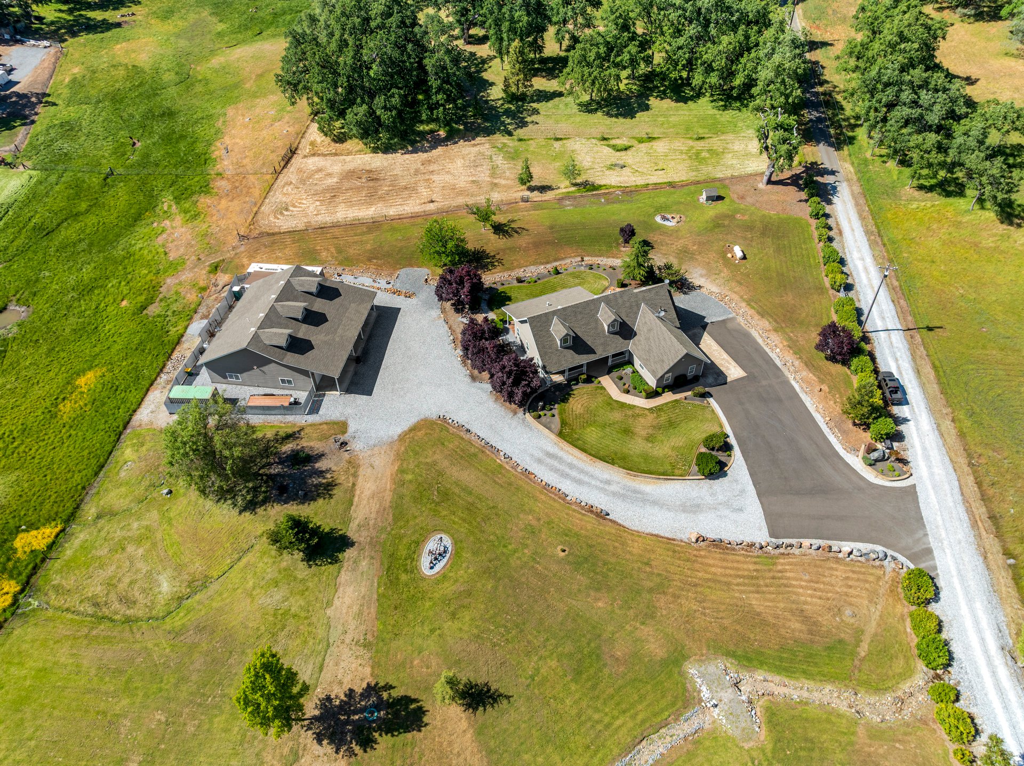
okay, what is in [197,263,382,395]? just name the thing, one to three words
building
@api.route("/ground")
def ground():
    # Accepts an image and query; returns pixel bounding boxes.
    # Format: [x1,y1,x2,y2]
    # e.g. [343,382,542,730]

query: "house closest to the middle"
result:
[502,276,711,388]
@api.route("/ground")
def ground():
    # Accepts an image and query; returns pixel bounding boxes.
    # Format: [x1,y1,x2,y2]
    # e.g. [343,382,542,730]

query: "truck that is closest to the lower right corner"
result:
[883,373,910,408]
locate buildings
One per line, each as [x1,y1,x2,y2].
[197,263,382,395]
[700,186,718,201]
[502,276,711,388]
